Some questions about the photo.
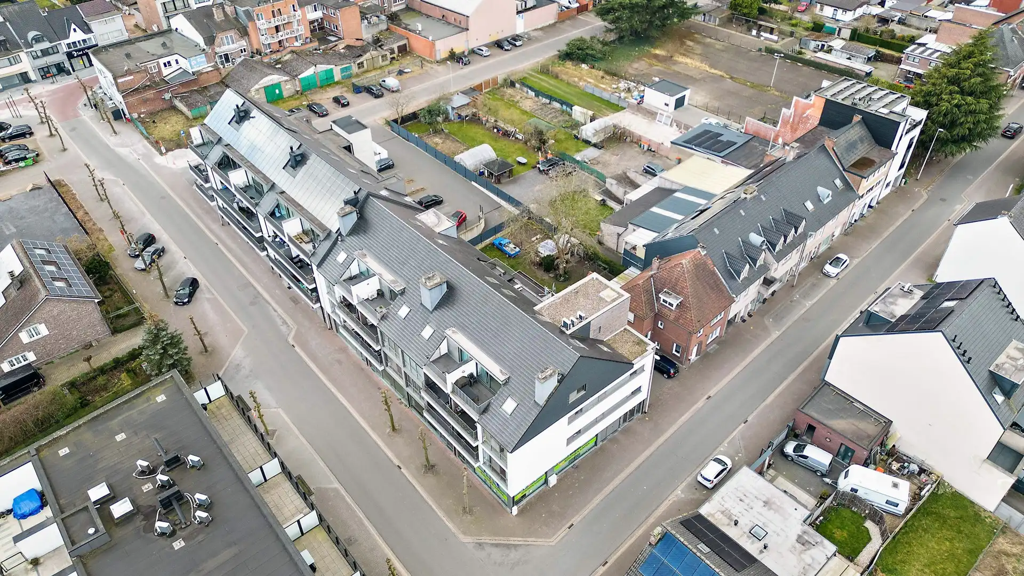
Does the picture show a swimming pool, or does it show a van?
van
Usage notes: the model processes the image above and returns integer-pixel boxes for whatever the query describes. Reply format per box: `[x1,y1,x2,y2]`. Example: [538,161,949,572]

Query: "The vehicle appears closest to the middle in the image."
[490,237,524,258]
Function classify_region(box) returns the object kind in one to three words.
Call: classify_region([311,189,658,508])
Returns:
building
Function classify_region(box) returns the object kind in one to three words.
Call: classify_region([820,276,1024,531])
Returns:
house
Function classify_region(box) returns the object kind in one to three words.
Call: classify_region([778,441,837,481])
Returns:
van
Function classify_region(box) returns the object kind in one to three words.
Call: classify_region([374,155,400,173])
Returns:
car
